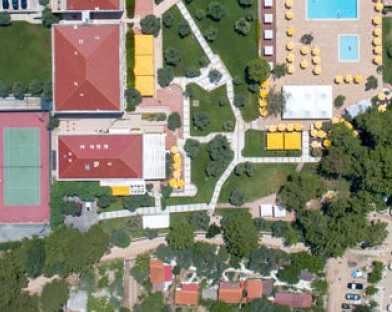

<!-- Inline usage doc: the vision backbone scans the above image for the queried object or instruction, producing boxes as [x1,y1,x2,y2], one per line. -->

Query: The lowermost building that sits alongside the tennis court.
[57,127,145,186]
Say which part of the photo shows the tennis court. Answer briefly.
left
